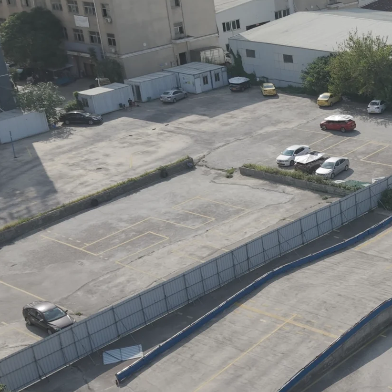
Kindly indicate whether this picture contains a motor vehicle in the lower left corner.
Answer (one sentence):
Yes, looking in the lower left corner, one can make out a motor vehicle.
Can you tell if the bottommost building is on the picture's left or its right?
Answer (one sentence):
It is on the left.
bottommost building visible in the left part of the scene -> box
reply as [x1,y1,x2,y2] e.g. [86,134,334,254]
[0,105,52,144]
